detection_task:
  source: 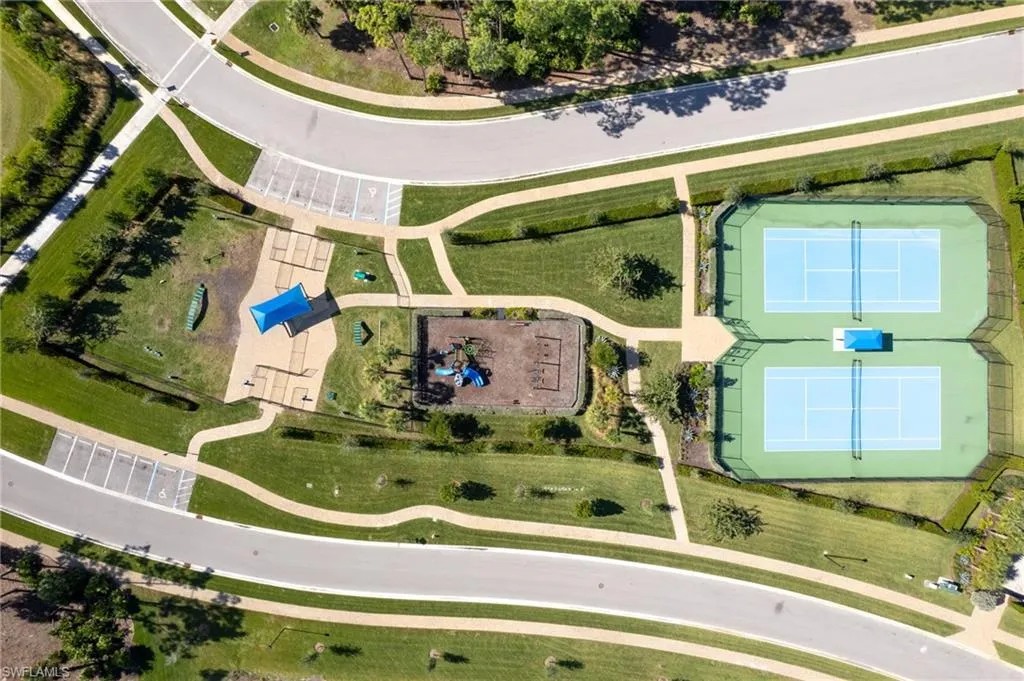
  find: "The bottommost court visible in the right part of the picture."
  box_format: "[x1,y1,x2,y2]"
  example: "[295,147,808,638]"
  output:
[718,340,989,479]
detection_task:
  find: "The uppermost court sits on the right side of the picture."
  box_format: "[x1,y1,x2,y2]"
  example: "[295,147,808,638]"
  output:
[718,203,988,340]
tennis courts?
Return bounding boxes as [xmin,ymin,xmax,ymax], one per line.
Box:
[718,203,988,340]
[718,340,989,479]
